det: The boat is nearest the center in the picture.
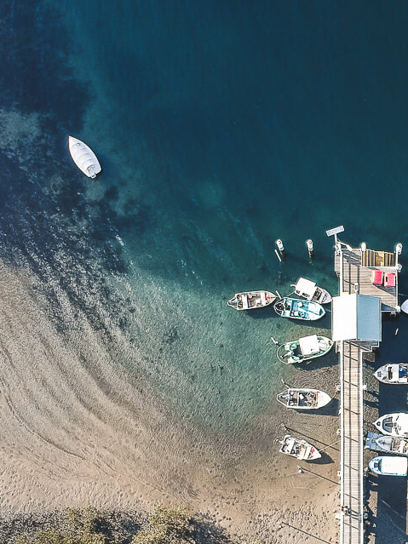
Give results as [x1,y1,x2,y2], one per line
[224,291,278,311]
